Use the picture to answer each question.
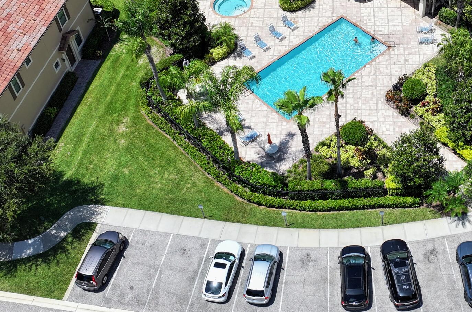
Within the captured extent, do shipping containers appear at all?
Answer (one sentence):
No, no shipping container is visible in the scene.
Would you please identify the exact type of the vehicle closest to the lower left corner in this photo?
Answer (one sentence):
It looks like the vehicle closest to the lower left corner is an automobile.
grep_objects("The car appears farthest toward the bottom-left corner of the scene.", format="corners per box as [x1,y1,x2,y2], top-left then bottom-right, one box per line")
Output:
[73,229,127,294]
